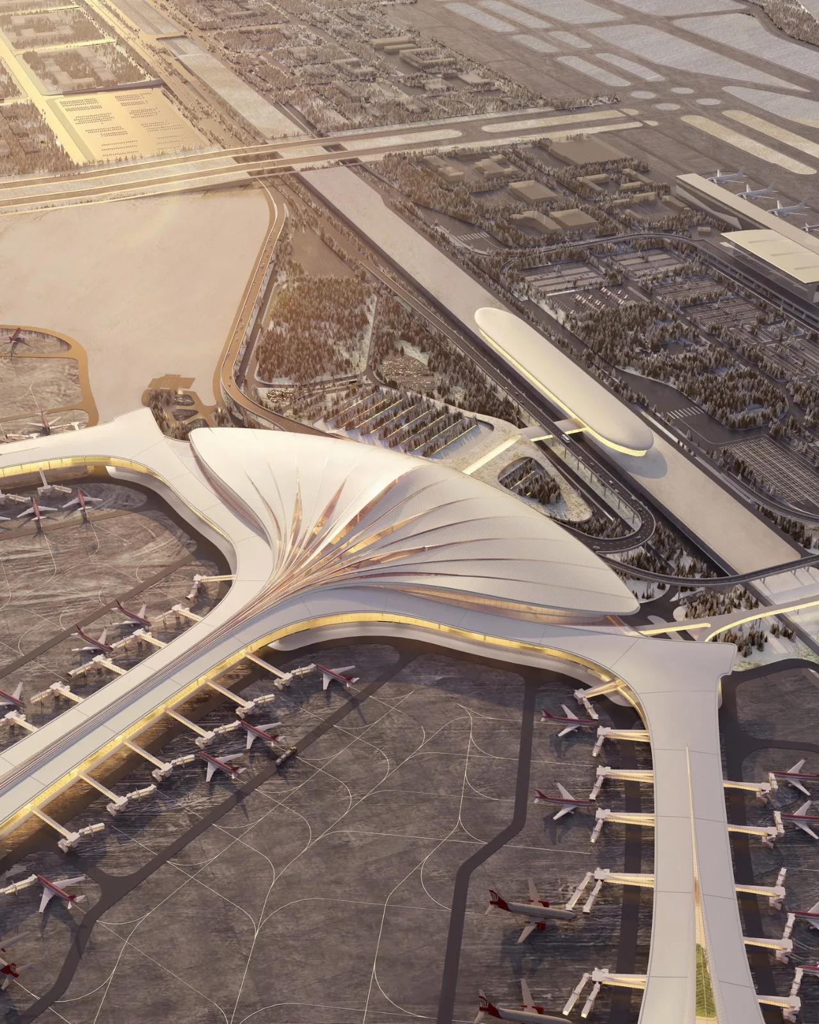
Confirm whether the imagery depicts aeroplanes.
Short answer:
Yes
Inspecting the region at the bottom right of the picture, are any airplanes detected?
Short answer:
Yes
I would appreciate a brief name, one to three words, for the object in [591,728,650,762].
jet bridge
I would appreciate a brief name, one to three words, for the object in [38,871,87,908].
airplane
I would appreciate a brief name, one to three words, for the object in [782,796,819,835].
airplane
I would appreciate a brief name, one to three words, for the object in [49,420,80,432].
jet bridge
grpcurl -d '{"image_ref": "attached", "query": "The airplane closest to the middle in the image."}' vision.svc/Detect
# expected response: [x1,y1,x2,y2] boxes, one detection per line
[316,661,362,689]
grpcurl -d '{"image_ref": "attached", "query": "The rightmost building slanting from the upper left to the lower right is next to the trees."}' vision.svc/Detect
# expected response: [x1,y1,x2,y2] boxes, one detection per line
[676,173,819,298]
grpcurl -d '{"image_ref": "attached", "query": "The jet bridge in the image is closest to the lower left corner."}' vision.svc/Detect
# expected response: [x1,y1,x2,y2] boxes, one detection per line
[0,872,41,900]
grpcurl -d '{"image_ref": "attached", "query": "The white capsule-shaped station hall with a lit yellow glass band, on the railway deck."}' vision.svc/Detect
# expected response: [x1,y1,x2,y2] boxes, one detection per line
[475,307,653,458]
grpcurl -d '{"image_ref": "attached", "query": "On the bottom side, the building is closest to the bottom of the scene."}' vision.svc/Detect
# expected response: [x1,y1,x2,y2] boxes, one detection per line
[0,408,765,1024]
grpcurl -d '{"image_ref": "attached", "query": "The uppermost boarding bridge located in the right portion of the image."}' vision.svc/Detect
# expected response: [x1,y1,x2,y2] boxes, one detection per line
[572,678,625,722]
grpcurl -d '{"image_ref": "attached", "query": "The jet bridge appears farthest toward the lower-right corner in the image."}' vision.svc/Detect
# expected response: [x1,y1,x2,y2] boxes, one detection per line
[758,965,804,1024]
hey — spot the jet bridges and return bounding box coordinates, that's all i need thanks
[109,630,166,653]
[49,420,80,432]
[40,472,74,499]
[82,776,160,819]
[65,656,128,681]
[0,489,33,508]
[728,810,782,853]
[572,678,625,722]
[126,743,199,783]
[152,606,204,625]
[186,575,235,603]
[591,728,650,762]
[0,710,39,732]
[589,765,654,805]
[589,809,655,848]
[561,968,647,1024]
[250,654,317,692]
[35,810,109,857]
[207,683,278,721]
[28,683,83,707]
[723,771,777,808]
[566,869,655,920]
[735,866,787,914]
[0,872,41,900]
[169,711,243,749]
[744,911,795,968]
[758,965,804,1024]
